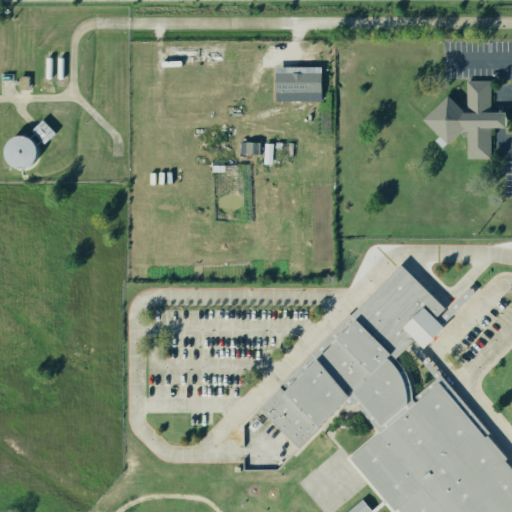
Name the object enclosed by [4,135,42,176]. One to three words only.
water tank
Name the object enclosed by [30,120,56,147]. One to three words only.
building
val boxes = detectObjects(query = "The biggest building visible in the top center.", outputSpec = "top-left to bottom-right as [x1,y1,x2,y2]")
[276,68,322,102]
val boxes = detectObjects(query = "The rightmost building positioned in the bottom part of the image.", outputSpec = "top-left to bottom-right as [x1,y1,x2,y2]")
[258,265,512,512]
